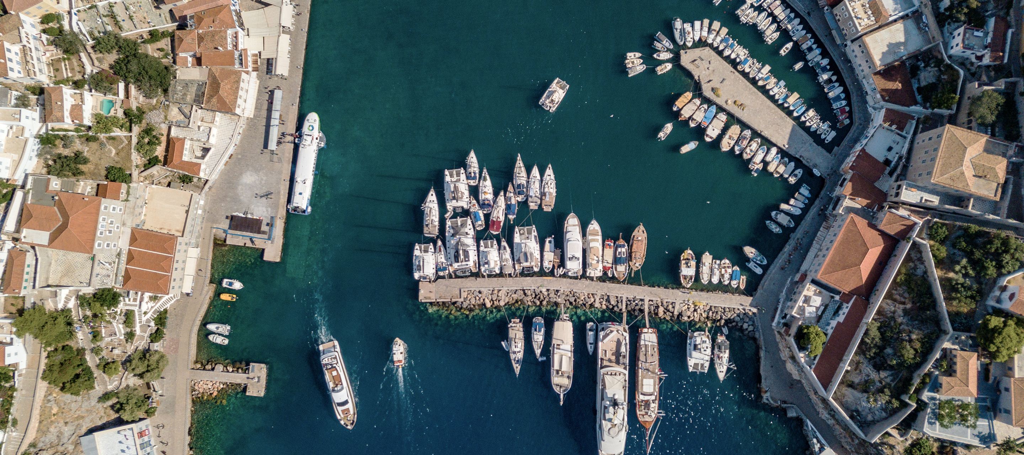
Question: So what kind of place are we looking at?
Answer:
residential area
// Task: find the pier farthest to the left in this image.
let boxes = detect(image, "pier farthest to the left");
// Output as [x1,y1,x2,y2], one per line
[188,362,268,397]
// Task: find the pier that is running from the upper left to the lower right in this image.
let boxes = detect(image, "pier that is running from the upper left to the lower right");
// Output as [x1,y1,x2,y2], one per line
[680,47,836,179]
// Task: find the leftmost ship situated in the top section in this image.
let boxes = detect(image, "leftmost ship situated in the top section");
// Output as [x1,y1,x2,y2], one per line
[287,111,328,216]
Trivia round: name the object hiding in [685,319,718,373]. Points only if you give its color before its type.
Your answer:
white boat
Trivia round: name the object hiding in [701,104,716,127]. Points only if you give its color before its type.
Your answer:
blue boat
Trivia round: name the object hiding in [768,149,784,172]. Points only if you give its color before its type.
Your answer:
white boat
